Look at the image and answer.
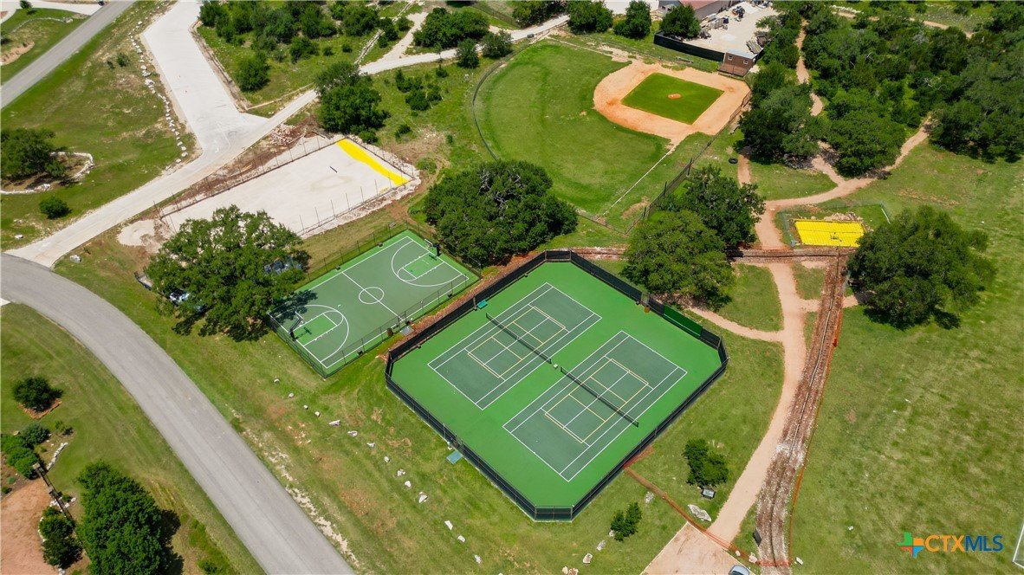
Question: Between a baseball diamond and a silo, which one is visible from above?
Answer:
baseball diamond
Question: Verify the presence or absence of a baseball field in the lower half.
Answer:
No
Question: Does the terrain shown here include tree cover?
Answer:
Yes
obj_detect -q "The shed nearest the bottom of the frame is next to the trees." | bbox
[725,43,759,70]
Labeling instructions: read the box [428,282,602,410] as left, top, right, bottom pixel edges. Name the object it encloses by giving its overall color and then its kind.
green tennis court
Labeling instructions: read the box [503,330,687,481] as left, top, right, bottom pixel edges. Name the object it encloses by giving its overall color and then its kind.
green tennis court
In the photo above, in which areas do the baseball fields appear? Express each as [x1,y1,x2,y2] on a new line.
[478,38,749,215]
